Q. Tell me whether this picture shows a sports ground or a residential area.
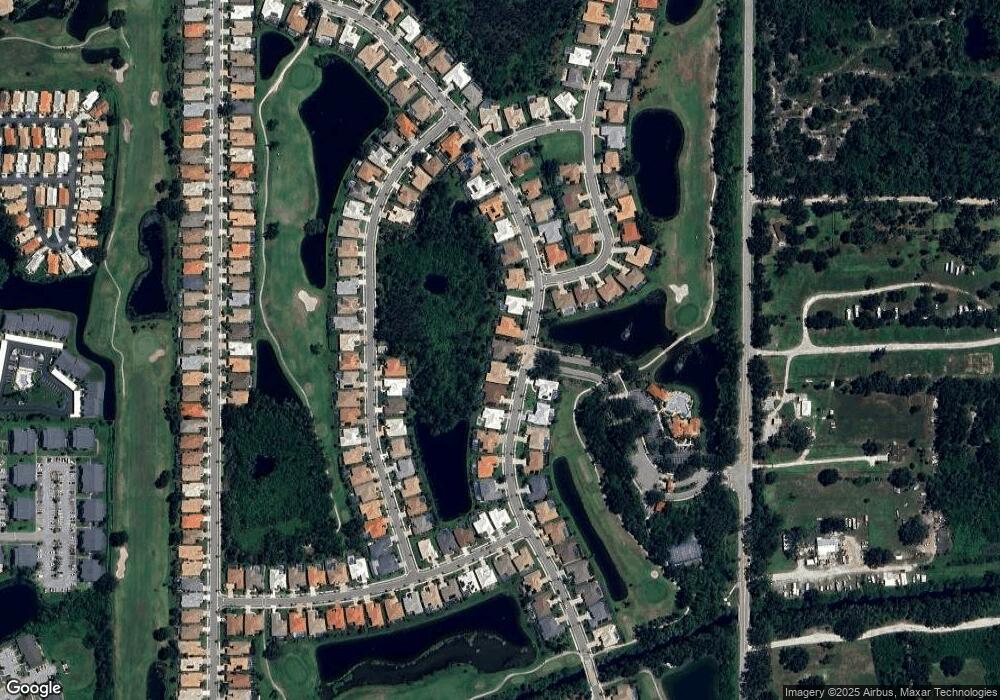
residential area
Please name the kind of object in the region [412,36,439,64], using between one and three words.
house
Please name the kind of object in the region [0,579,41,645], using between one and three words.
pond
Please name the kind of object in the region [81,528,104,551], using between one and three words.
building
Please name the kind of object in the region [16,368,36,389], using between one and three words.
swimming pool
